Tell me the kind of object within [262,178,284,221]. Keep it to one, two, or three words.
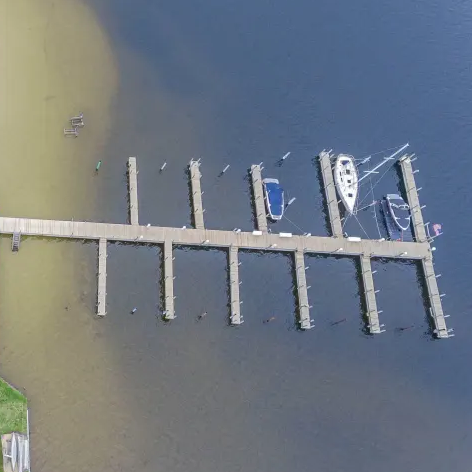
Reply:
boat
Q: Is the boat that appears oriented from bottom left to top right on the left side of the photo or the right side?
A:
right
